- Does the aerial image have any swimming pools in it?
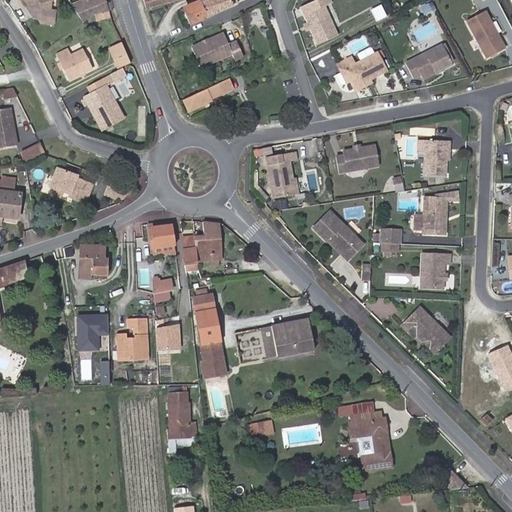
Yes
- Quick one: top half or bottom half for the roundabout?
top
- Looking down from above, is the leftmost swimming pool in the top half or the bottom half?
bottom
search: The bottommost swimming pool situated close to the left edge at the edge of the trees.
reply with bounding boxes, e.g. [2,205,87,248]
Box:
[0,345,26,384]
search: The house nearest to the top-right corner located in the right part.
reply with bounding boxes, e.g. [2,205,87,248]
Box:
[466,10,506,58]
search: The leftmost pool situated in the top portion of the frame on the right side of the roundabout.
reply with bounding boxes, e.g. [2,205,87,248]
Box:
[301,169,320,195]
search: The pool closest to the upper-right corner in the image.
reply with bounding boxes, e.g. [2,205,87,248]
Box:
[408,2,444,50]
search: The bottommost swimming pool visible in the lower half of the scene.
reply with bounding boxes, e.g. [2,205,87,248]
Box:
[282,423,322,449]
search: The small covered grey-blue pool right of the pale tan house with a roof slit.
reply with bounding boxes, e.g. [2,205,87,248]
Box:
[112,78,131,101]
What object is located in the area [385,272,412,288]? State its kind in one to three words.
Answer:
swimming pool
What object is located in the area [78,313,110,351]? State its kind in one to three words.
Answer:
house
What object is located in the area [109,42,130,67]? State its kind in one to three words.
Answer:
building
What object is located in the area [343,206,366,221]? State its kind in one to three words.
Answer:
swimming pool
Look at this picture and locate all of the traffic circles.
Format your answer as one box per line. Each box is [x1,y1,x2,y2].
[149,128,238,216]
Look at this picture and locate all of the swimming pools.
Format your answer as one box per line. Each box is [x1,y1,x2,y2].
[0,345,26,384]
[205,376,234,416]
[385,272,412,288]
[301,169,320,195]
[112,78,131,101]
[503,102,512,124]
[32,168,44,180]
[500,281,512,293]
[282,423,322,449]
[397,191,420,212]
[343,206,366,221]
[408,2,444,50]
[398,135,418,160]
[140,268,149,286]
[338,36,368,58]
